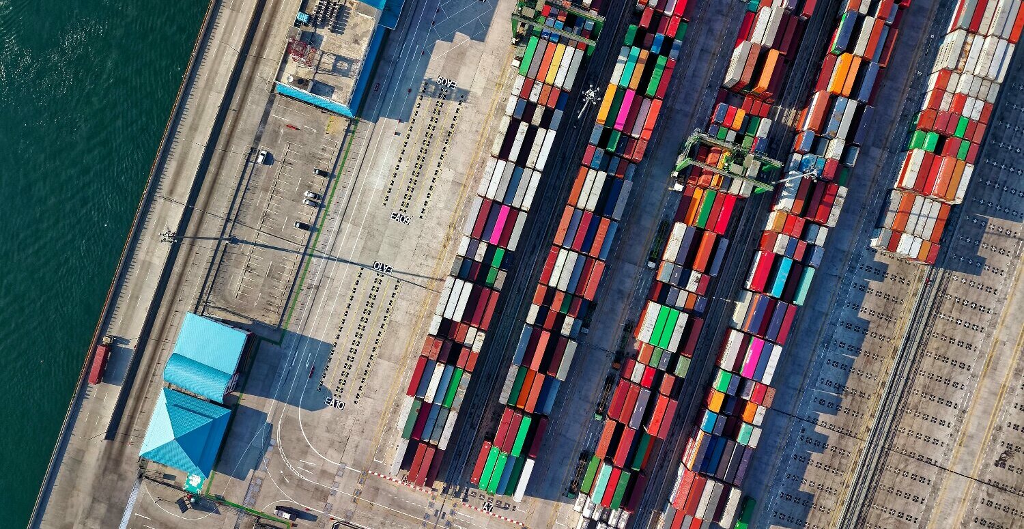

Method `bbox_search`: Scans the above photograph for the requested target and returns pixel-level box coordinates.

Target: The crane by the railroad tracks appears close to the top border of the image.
[504,0,609,69]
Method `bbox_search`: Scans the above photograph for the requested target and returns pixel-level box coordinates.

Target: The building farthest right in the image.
[275,0,405,120]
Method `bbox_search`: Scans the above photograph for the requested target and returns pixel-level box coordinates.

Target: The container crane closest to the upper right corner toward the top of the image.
[663,130,787,203]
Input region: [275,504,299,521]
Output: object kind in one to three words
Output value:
vehicle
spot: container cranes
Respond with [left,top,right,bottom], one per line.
[663,130,787,203]
[504,0,609,69]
